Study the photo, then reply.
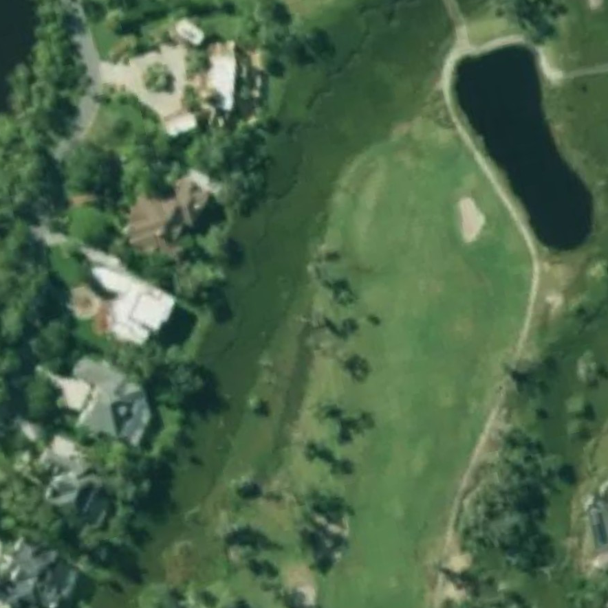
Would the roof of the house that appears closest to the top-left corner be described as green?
No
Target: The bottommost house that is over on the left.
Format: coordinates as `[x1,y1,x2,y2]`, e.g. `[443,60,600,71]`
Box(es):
[0,538,79,608]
